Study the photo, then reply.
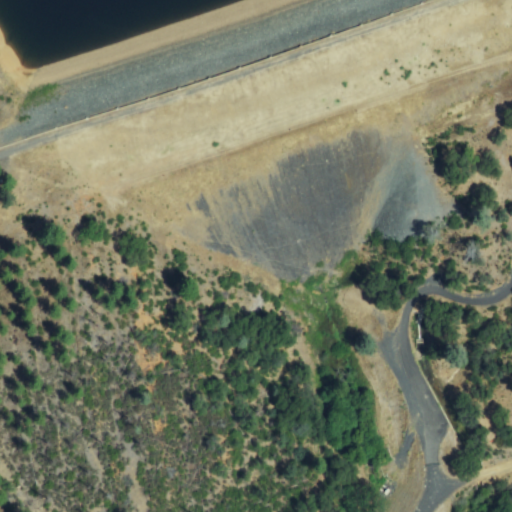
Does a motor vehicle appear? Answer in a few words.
No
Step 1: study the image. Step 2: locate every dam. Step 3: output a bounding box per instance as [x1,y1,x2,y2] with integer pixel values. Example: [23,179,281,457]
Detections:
[0,0,512,193]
